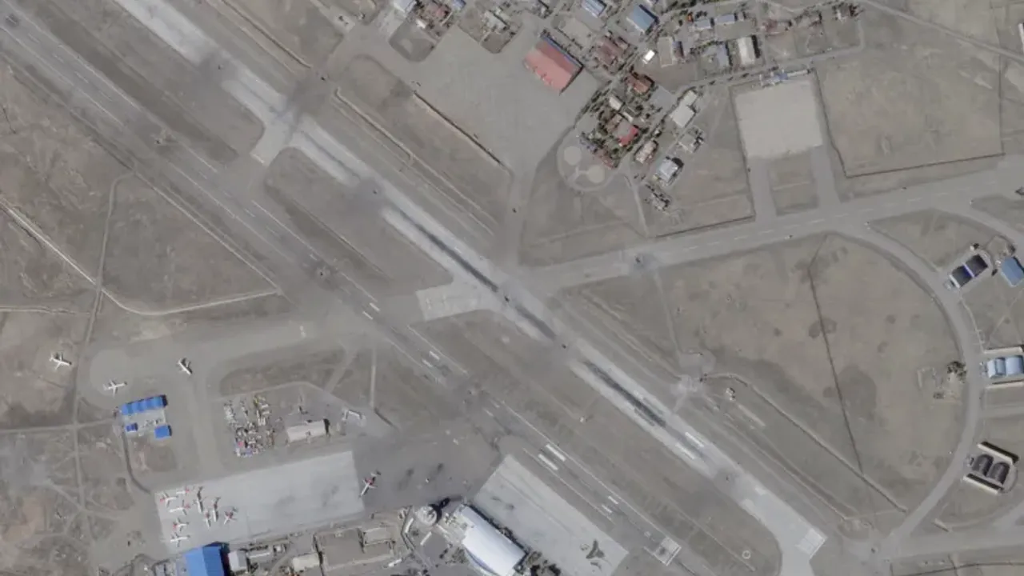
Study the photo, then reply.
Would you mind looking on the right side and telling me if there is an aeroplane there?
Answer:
No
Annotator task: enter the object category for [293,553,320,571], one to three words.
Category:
house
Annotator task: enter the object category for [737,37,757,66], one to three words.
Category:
building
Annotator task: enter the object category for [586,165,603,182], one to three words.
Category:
helipad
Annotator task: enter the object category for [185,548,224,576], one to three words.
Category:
hangar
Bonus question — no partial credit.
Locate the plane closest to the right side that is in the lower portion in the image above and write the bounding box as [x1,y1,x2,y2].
[362,472,379,497]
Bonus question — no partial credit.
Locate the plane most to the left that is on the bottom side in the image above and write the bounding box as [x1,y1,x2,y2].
[48,350,72,371]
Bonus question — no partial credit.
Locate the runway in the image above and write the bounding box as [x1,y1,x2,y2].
[0,0,685,570]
